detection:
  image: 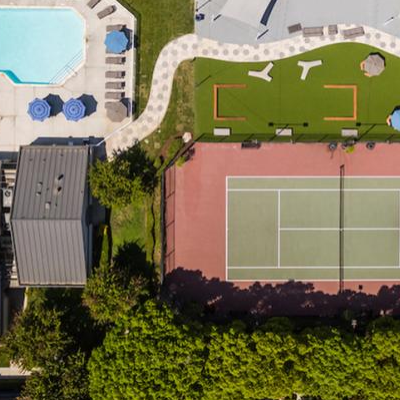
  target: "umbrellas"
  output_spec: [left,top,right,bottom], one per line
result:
[389,107,400,130]
[363,54,385,76]
[29,100,50,120]
[64,99,86,121]
[106,31,128,54]
[106,101,128,122]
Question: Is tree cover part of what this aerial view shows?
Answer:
Yes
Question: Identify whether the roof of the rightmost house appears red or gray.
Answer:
gray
